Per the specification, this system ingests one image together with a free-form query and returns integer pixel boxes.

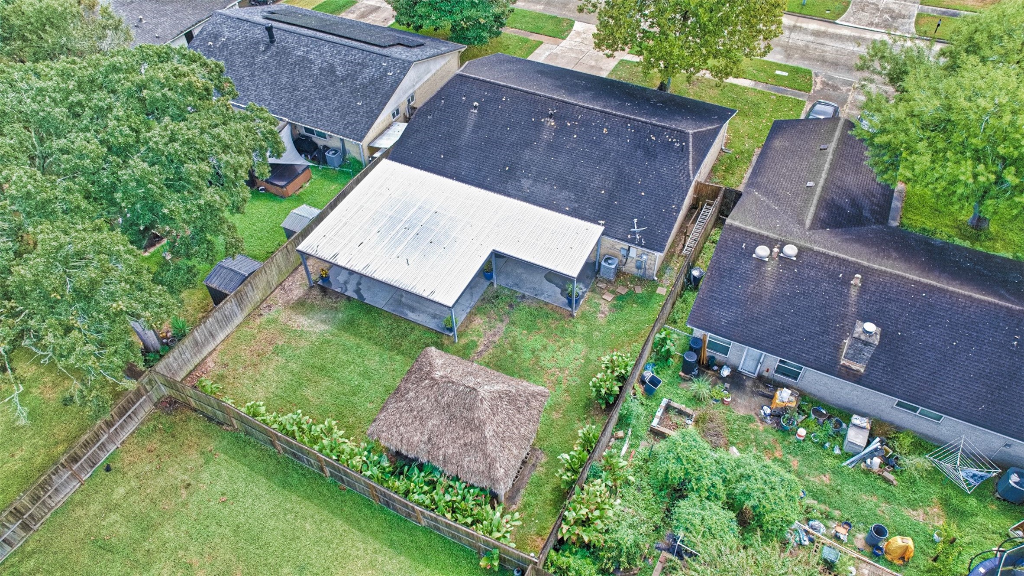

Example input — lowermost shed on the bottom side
[361,347,556,501]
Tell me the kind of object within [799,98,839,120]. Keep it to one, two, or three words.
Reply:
car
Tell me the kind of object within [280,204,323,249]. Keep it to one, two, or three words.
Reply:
shed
